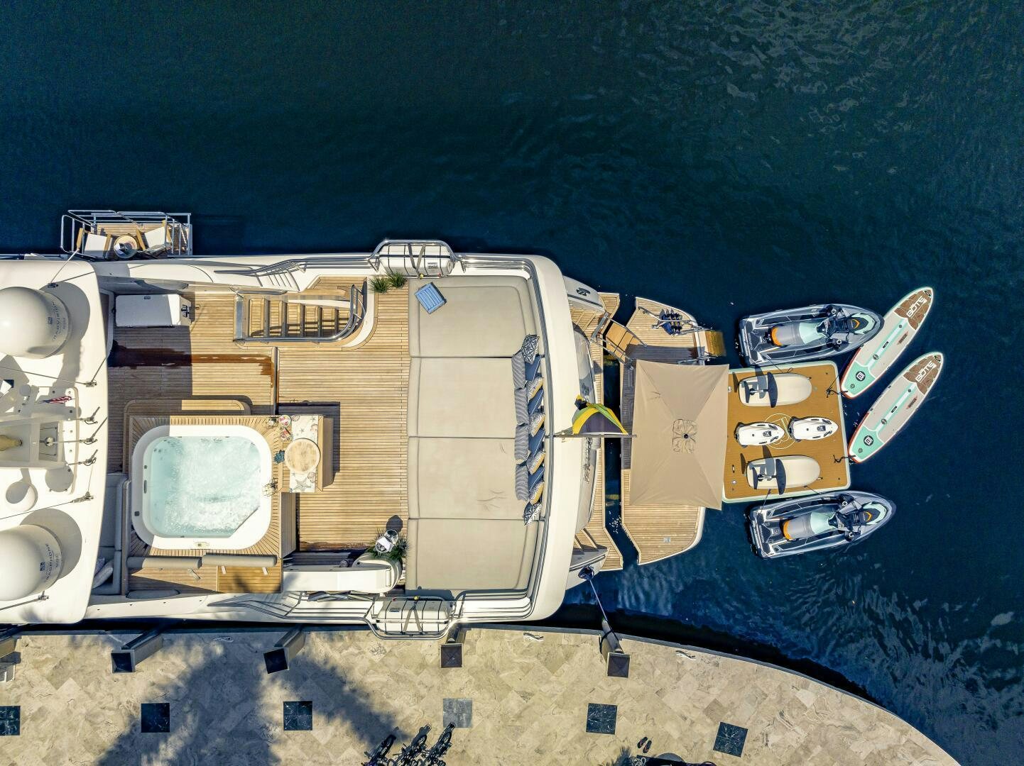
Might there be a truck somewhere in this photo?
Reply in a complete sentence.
No, the picture doesn't show any truck.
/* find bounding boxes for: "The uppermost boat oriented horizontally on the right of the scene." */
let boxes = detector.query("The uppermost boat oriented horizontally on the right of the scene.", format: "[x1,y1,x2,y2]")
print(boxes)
[731,306,890,368]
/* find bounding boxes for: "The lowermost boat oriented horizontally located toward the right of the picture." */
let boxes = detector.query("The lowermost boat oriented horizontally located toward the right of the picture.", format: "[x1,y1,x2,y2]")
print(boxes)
[742,492,900,555]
